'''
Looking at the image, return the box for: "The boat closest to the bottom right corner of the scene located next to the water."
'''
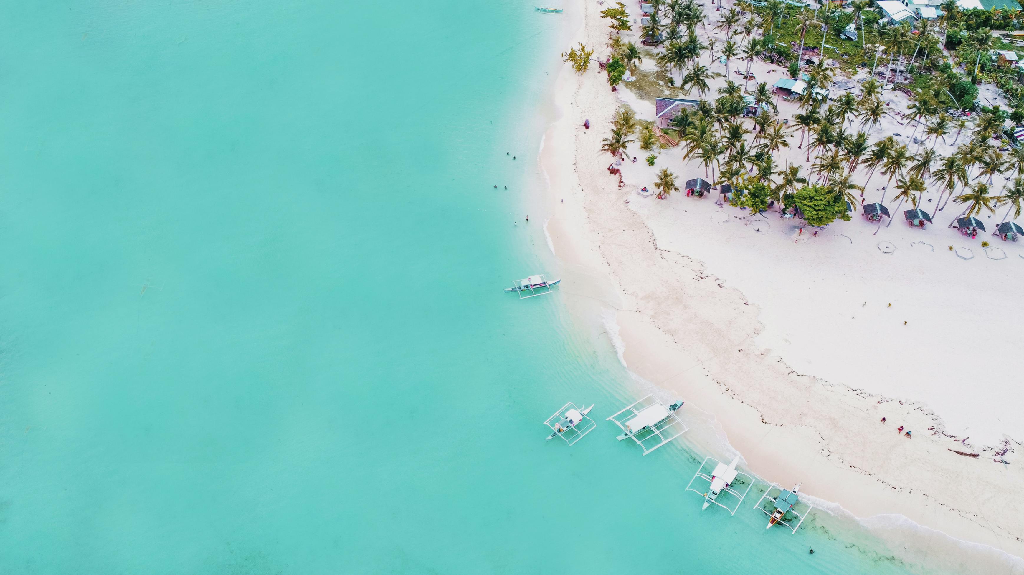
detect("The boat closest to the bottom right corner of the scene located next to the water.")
[753,483,812,534]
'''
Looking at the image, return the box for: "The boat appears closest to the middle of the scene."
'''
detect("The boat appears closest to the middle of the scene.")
[503,274,561,299]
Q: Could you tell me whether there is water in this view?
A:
Yes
